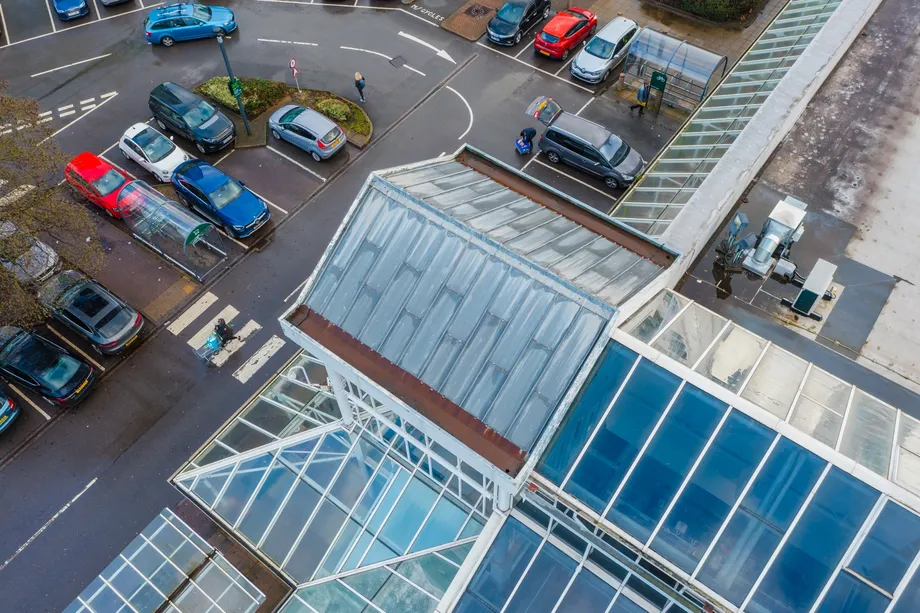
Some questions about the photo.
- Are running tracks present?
No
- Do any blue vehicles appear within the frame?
Yes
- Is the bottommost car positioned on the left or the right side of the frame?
left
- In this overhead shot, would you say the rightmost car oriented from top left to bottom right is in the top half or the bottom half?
top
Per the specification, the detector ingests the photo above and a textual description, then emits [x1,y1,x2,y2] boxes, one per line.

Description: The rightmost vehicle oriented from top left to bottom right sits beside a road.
[527,99,649,189]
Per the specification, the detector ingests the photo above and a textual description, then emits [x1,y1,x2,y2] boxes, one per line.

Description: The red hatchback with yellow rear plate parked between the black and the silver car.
[534,6,598,60]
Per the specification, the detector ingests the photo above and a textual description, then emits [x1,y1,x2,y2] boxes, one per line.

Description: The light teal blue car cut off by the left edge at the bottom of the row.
[0,387,21,432]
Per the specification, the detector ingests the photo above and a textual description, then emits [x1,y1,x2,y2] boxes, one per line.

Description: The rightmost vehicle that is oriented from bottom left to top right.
[571,13,642,84]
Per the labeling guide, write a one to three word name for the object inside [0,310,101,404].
car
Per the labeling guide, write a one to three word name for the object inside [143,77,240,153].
car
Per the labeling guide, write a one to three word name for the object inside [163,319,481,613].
building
